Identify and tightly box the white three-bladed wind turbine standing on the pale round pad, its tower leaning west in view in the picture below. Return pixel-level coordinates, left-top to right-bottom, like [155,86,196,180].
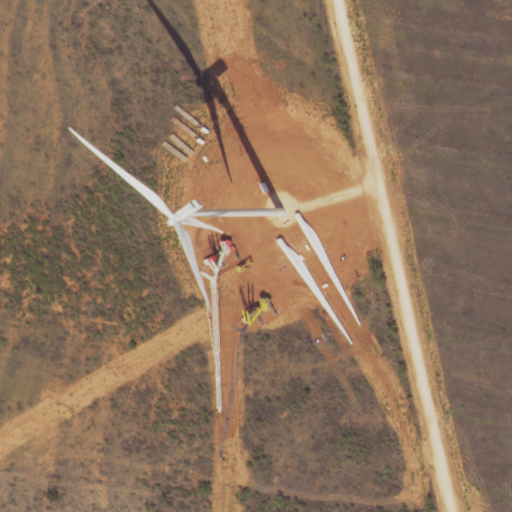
[71,127,290,312]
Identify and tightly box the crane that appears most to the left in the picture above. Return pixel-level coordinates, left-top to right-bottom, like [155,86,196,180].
[202,232,241,412]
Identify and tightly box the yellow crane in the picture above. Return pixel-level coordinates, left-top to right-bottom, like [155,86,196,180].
[220,288,278,453]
